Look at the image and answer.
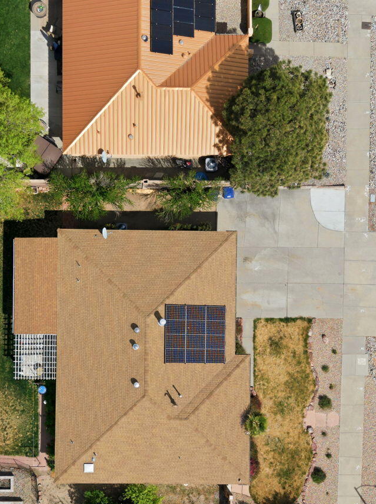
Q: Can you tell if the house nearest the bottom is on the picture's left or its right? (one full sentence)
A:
The house nearest the bottom sits on the left side.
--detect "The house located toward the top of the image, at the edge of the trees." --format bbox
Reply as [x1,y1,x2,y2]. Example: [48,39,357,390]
[61,0,251,156]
